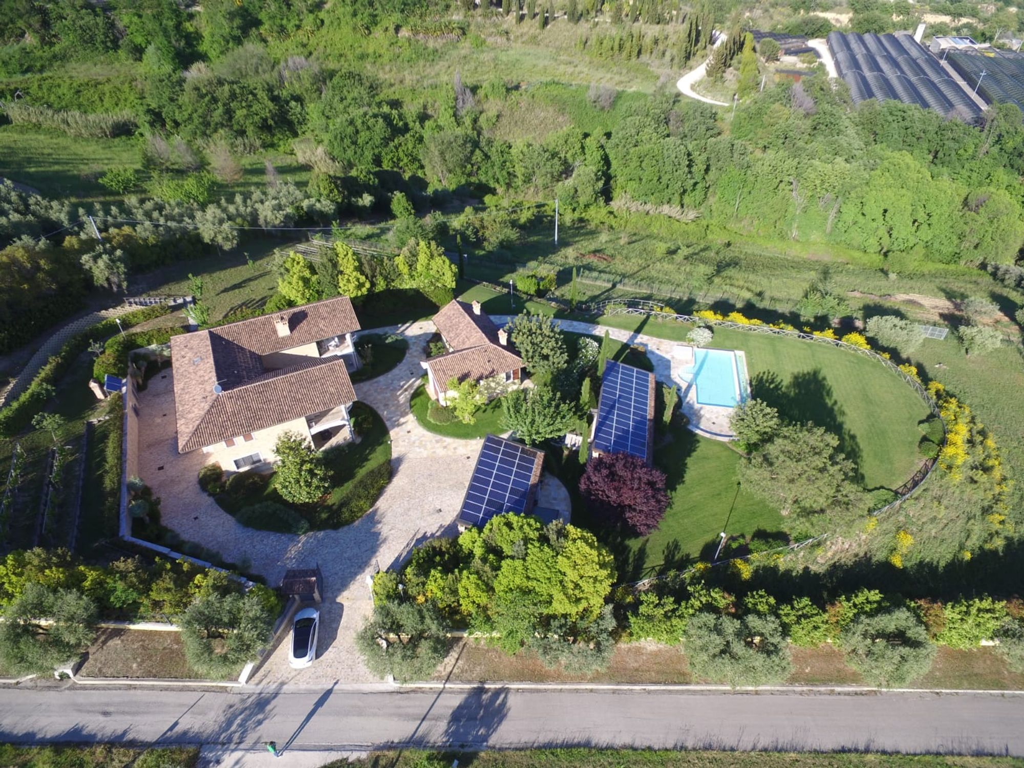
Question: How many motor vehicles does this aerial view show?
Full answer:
Only 1 motor vehicle is visible.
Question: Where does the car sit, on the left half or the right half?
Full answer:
It is on the left.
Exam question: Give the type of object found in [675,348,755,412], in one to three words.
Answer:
swimming pool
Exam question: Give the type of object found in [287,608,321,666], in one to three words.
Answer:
car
